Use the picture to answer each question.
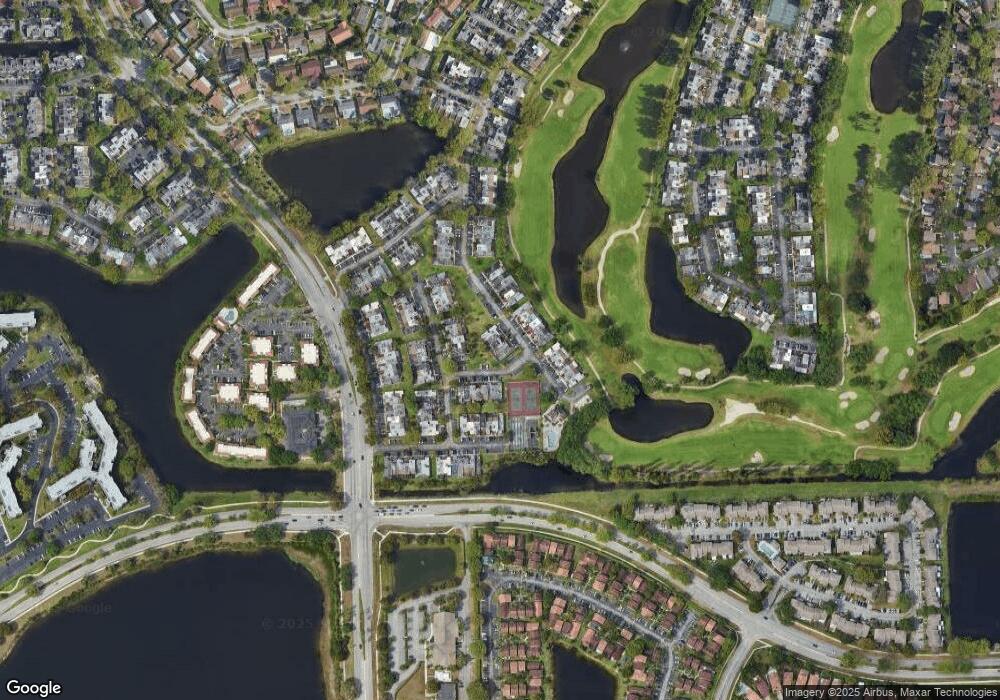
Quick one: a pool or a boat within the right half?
pool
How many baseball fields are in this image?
zero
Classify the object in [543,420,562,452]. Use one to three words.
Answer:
swimming pool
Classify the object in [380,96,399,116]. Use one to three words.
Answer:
house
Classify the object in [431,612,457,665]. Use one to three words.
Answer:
building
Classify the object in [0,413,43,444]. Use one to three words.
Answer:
building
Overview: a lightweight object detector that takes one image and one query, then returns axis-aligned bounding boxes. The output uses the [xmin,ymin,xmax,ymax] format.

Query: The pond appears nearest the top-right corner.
[869,0,923,114]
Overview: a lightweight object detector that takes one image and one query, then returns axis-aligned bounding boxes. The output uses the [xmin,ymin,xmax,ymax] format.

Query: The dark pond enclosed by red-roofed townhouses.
[550,640,617,700]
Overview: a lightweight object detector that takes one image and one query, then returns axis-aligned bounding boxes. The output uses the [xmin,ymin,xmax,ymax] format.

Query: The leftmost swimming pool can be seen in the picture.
[219,307,238,324]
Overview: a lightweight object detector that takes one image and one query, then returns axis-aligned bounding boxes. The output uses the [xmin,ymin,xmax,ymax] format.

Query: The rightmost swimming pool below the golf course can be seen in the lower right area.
[757,540,780,558]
